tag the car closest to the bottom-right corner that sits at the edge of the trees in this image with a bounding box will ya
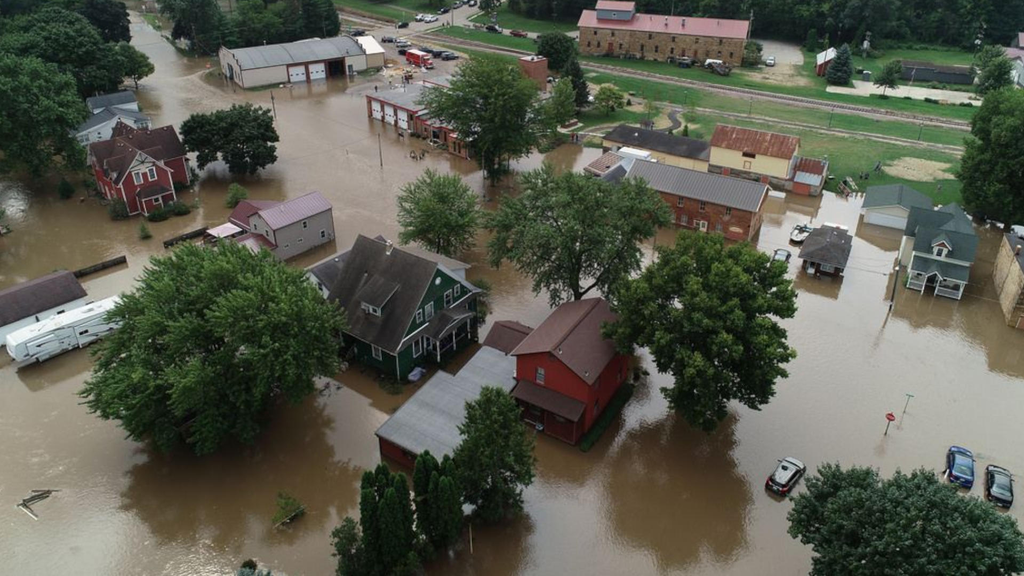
[984,470,1012,512]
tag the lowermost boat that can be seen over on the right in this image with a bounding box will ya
[791,220,814,246]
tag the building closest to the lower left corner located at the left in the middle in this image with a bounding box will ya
[0,268,88,346]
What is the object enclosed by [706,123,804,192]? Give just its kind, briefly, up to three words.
barn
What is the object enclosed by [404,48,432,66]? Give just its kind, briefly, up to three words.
vehicle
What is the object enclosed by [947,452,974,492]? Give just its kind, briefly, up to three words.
car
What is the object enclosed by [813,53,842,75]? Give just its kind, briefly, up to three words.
shed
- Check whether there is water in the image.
Yes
